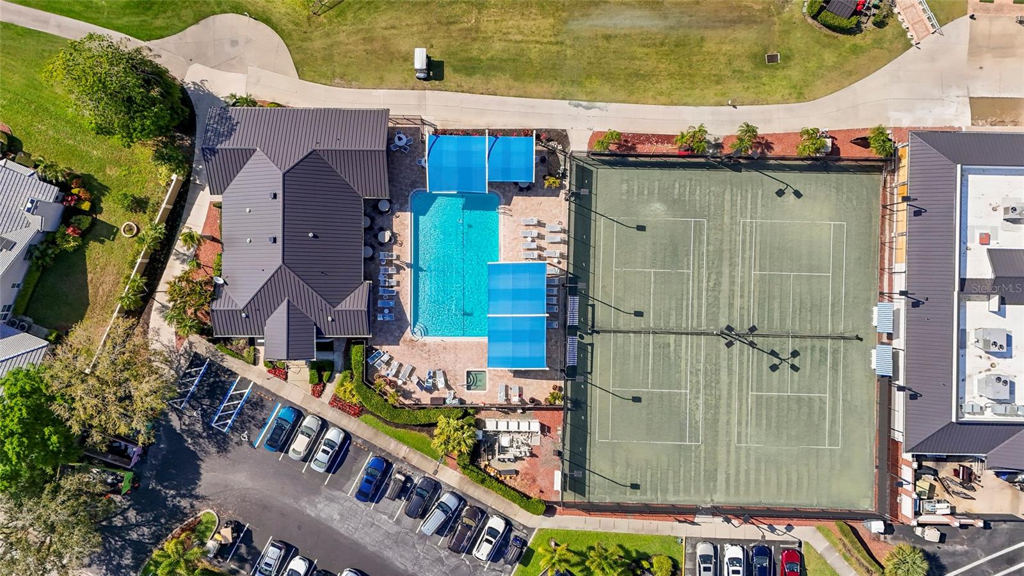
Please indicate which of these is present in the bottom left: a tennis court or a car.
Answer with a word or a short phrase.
car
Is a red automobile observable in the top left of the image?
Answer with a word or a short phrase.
No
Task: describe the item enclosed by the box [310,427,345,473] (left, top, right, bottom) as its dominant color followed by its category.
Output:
white car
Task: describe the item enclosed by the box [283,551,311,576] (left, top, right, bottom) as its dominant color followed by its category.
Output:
white car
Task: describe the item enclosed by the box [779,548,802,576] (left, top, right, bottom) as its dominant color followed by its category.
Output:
red car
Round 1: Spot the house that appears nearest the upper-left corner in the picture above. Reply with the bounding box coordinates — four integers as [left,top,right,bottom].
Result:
[0,158,67,304]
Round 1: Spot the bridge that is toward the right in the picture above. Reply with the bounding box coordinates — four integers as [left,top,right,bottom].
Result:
[896,0,949,40]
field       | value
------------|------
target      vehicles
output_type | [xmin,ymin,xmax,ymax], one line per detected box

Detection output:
[911,524,942,541]
[263,406,300,453]
[338,563,359,576]
[310,427,345,473]
[447,505,483,554]
[749,543,773,576]
[414,46,428,75]
[353,456,388,502]
[779,548,802,576]
[383,474,406,502]
[254,541,288,576]
[283,551,311,576]
[402,475,437,521]
[694,541,716,576]
[472,515,507,562]
[219,518,243,543]
[502,537,522,566]
[723,542,746,576]
[288,415,323,460]
[422,489,458,538]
